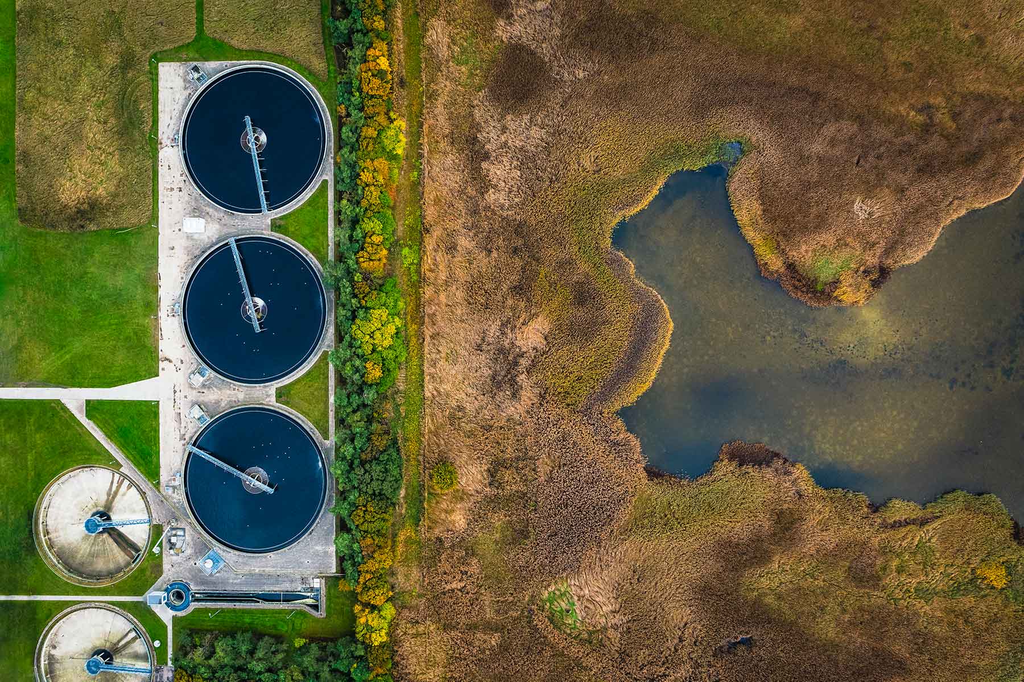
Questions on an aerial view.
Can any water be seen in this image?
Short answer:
Yes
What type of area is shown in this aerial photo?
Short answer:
industrial area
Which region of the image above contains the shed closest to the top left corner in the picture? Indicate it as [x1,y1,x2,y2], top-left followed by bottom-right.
[183,217,208,234]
